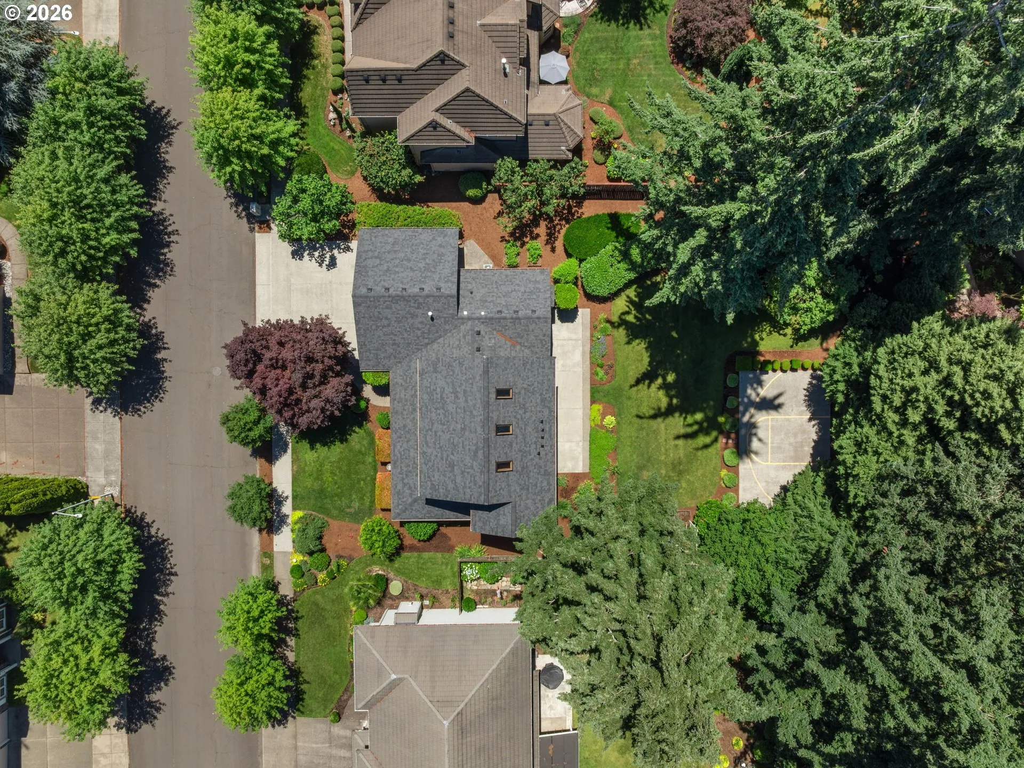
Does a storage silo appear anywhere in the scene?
No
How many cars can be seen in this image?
0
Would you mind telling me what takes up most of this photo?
trees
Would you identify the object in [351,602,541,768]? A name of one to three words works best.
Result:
house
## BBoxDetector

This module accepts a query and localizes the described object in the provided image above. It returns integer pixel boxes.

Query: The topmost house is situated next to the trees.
[342,0,584,169]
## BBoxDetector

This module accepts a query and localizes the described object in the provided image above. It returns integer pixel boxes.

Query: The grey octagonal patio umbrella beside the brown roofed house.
[540,56,568,85]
